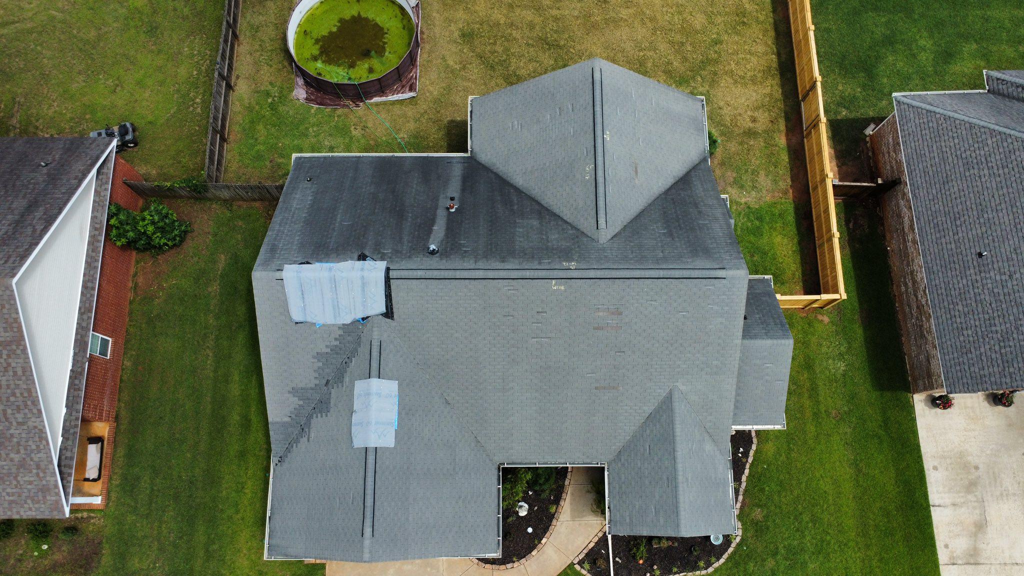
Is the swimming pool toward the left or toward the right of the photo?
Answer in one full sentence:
You can find the swimming pool on the left side of the picture.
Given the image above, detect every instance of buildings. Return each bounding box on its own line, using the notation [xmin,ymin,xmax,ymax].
[252,56,795,564]
[0,139,145,517]
[872,68,1024,394]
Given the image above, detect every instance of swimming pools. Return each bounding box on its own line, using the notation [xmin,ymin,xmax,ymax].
[288,0,424,97]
